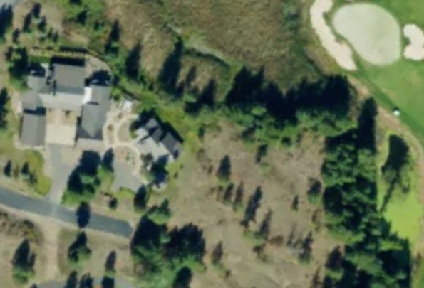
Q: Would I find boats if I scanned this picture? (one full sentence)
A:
No, there is no boat in the image.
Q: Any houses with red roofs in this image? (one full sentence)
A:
No, there's no house with a red roof here.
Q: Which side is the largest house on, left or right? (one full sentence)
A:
It is on the left.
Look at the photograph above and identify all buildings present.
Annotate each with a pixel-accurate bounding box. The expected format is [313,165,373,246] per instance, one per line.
[19,63,111,147]
[134,118,184,162]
